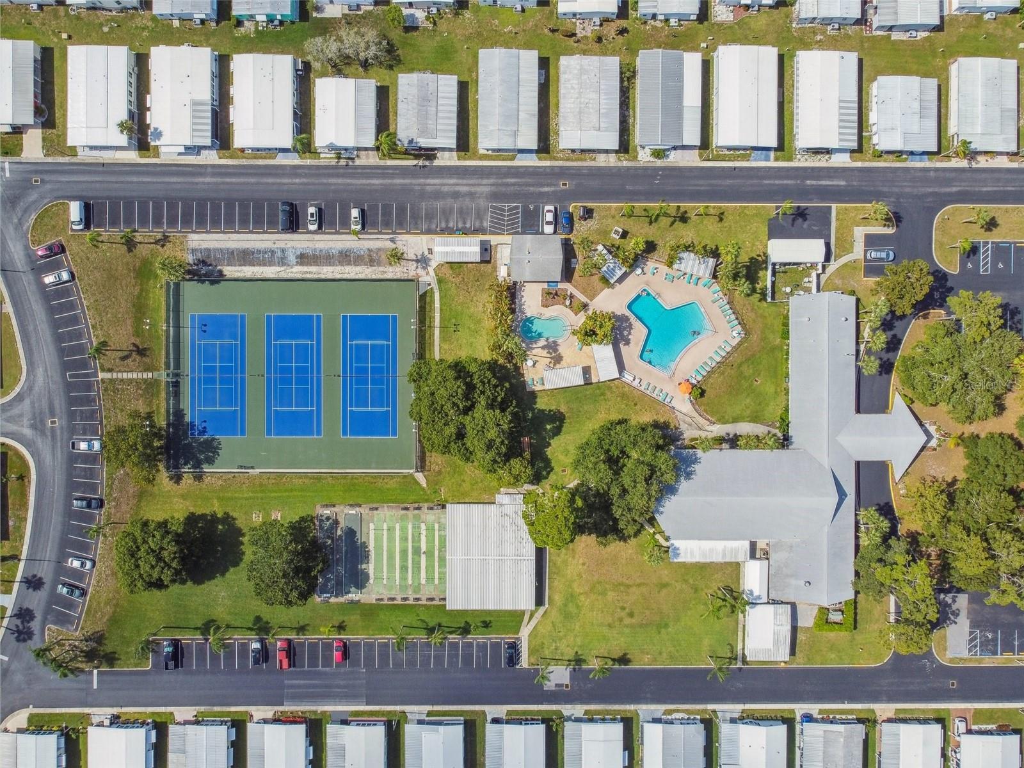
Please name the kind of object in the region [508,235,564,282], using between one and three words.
building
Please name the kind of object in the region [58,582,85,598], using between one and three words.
car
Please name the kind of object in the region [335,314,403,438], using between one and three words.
tennis court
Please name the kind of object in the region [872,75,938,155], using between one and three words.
house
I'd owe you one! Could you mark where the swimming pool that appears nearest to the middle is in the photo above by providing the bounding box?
[519,314,572,342]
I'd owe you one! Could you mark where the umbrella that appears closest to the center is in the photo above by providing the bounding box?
[678,381,692,395]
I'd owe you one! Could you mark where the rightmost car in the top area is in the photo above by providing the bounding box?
[867,249,893,261]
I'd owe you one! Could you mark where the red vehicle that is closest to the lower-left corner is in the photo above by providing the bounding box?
[277,638,290,670]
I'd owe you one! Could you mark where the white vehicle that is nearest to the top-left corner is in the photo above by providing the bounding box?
[68,200,85,230]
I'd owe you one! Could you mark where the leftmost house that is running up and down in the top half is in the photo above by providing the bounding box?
[0,39,42,132]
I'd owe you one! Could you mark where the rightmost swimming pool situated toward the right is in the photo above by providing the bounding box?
[626,286,718,377]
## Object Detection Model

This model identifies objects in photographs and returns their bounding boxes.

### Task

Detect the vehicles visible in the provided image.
[74,498,102,510]
[350,207,362,231]
[68,556,95,571]
[333,639,345,663]
[307,206,319,231]
[70,440,103,453]
[162,639,177,671]
[504,640,516,666]
[543,206,555,234]
[250,639,263,666]
[58,582,85,598]
[43,270,72,285]
[277,638,290,670]
[953,713,967,735]
[867,249,893,261]
[279,202,293,234]
[68,200,85,230]
[492,717,501,723]
[35,243,63,258]
[801,713,814,736]
[561,211,572,235]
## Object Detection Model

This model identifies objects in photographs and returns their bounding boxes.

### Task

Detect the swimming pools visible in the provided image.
[519,314,572,342]
[626,286,718,377]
